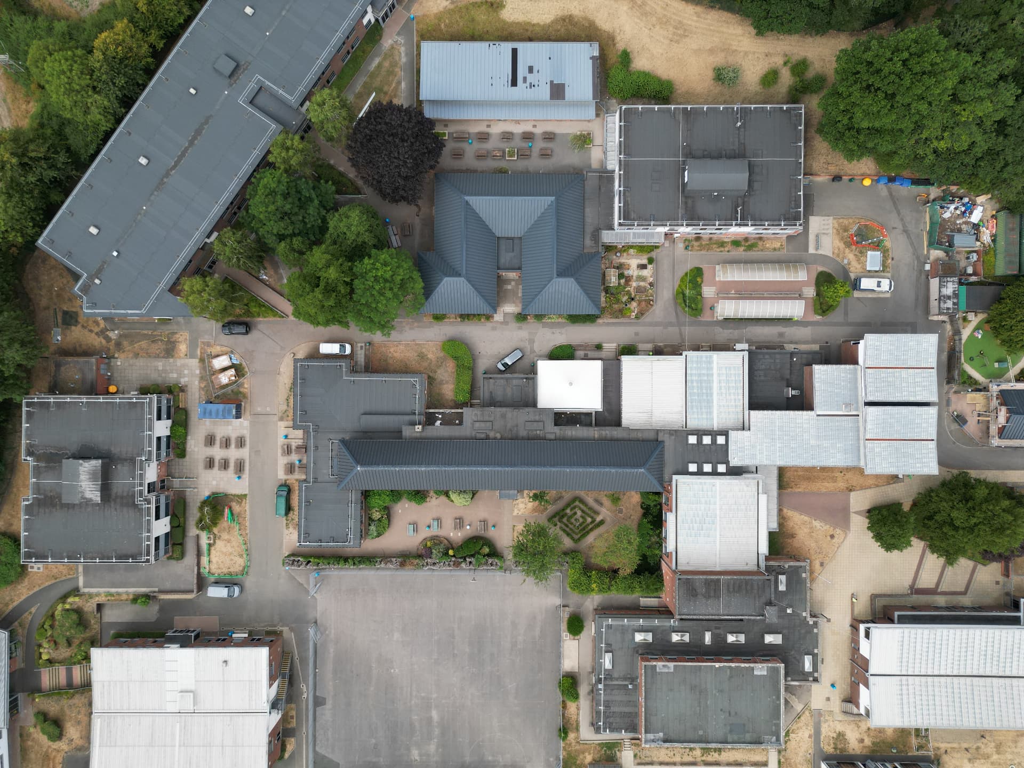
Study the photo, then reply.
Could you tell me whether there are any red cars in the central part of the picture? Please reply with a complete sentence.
No, there is no red car in the central part of the picture.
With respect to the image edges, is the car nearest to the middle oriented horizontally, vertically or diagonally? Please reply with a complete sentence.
From this overhead view, the car nearest to the middle appears to run diagonally.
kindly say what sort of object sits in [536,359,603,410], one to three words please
building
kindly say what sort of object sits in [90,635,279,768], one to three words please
building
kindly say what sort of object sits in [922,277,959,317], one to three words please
shed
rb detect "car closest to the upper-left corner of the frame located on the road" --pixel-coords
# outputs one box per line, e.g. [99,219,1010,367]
[224,321,251,336]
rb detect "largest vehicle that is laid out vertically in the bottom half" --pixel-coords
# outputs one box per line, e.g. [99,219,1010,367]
[276,483,291,516]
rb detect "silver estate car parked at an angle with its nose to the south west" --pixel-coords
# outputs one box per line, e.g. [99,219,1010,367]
[495,346,524,373]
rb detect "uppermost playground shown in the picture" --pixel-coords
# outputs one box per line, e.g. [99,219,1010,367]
[965,328,1024,378]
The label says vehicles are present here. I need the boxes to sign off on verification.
[495,346,524,373]
[319,341,352,356]
[224,321,251,336]
[276,483,291,516]
[850,277,889,293]
[208,582,244,598]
